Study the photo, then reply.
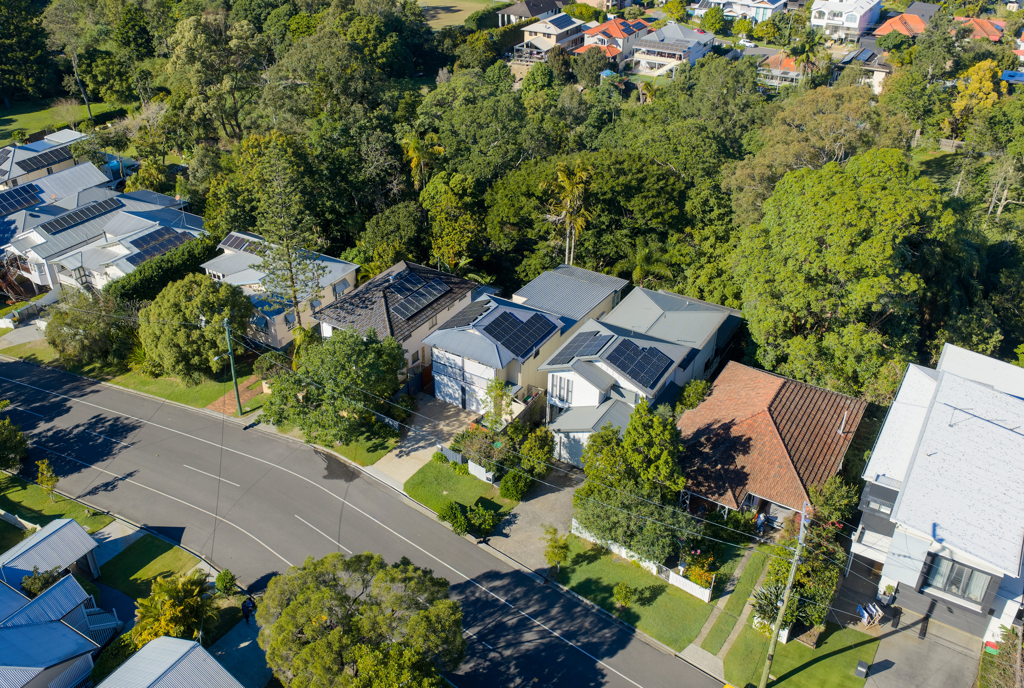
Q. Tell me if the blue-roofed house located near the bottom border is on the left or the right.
left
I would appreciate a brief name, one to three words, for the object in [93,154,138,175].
swimming pool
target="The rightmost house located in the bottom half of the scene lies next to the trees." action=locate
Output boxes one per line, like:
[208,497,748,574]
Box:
[841,343,1024,644]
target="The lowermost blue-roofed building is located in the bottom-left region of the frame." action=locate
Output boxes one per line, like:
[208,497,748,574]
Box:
[0,573,125,688]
